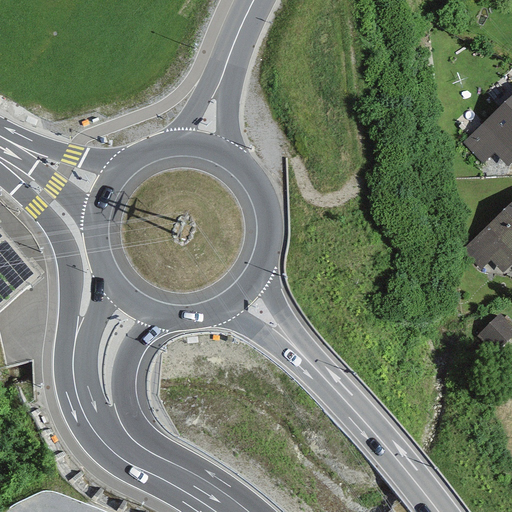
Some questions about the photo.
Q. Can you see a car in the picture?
Yes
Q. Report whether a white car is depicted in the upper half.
No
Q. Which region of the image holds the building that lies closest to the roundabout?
left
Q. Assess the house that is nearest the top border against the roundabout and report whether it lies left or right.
on the right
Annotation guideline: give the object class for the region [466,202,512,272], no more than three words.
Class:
house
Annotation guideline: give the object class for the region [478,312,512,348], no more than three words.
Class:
shed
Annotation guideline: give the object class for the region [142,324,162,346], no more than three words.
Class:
car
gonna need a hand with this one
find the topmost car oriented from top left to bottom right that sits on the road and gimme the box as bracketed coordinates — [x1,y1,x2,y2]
[282,346,302,367]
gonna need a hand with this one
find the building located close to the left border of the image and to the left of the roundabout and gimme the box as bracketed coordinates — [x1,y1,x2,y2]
[0,227,44,310]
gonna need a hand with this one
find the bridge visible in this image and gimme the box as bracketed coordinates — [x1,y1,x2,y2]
[338,422,466,512]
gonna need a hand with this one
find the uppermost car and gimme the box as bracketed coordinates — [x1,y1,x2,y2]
[96,185,112,209]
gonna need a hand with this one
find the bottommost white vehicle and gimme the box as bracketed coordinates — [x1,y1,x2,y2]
[128,467,149,484]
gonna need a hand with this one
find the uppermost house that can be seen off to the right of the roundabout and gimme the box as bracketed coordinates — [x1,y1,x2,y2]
[464,95,512,170]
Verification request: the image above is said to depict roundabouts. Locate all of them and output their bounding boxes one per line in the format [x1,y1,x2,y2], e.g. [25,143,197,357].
[80,127,284,332]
